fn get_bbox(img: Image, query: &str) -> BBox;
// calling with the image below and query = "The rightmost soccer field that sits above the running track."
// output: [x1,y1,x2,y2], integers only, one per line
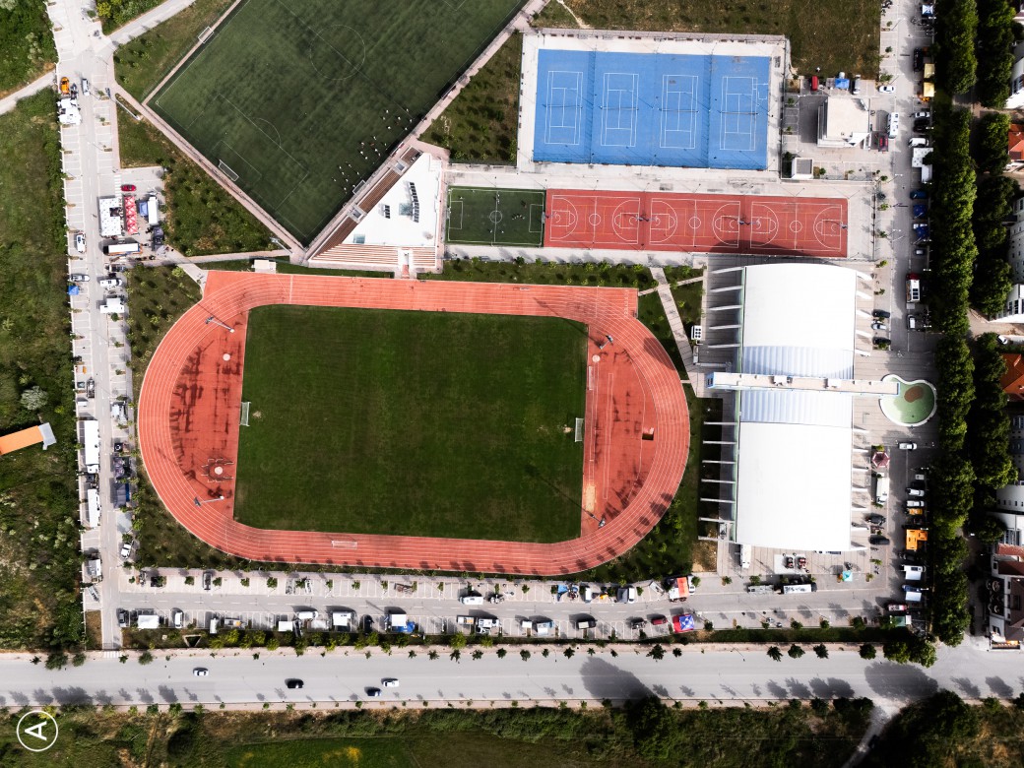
[446,188,545,246]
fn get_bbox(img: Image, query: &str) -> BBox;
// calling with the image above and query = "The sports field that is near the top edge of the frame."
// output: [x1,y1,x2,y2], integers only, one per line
[143,0,525,245]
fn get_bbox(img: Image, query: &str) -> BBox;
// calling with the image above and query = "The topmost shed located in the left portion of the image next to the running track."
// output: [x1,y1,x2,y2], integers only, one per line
[254,259,278,275]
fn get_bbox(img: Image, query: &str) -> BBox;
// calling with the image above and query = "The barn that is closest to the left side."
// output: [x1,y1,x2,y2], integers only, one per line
[0,423,58,460]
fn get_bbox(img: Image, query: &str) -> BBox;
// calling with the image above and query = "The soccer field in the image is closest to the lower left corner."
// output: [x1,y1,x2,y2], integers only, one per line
[233,304,587,543]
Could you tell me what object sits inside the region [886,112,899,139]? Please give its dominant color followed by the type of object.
white vehicle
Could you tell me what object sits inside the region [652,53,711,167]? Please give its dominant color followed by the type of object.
blue tennis court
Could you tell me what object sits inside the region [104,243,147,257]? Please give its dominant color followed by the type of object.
white vehicle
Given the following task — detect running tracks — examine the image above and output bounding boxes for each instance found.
[136,269,692,577]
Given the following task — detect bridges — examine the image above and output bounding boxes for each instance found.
[705,372,901,397]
